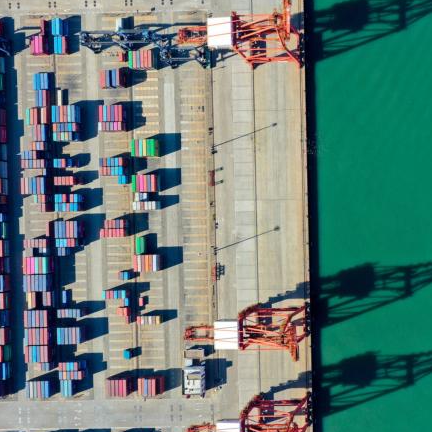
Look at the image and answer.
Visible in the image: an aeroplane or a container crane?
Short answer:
container crane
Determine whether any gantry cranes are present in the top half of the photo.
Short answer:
Yes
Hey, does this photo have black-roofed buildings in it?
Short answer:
No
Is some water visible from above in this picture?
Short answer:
Yes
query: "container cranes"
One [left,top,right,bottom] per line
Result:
[155,45,219,75]
[78,29,169,60]
[184,297,309,373]
[185,386,311,432]
[178,0,304,78]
